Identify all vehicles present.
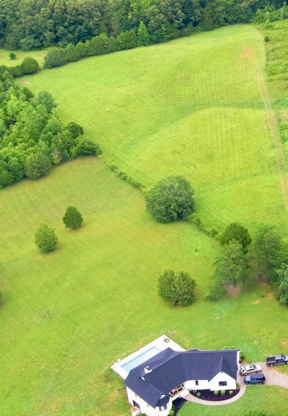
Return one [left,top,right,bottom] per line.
[243,372,265,385]
[240,362,262,373]
[265,353,288,365]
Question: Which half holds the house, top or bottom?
bottom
